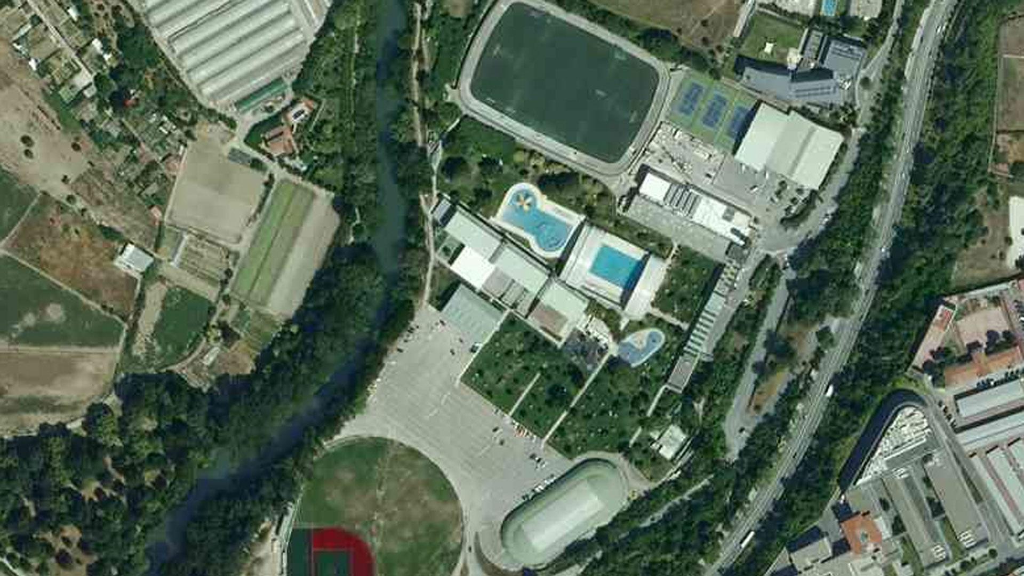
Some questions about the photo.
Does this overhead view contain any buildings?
Yes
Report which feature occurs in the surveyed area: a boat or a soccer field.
soccer field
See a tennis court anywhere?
Yes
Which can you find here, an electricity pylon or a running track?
running track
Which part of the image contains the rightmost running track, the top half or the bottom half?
top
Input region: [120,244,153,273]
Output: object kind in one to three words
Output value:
barn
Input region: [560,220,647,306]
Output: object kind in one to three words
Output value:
swimming pool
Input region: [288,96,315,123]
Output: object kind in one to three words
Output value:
house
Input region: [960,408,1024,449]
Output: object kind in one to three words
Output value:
building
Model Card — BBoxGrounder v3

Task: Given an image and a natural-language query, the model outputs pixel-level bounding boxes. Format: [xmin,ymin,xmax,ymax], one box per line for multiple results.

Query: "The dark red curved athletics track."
[313,527,376,576]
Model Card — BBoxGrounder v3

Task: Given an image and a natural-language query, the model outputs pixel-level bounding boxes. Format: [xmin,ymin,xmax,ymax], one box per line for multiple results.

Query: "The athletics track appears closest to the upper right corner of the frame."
[458,0,670,176]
